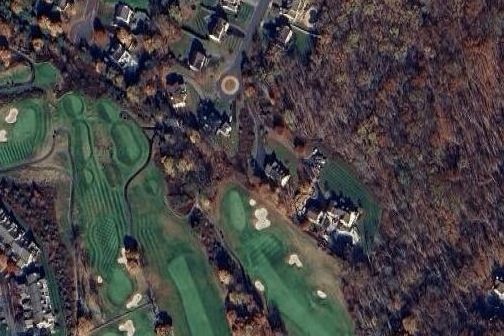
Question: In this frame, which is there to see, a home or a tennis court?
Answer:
home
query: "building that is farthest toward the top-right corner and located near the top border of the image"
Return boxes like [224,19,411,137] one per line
[286,1,313,24]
